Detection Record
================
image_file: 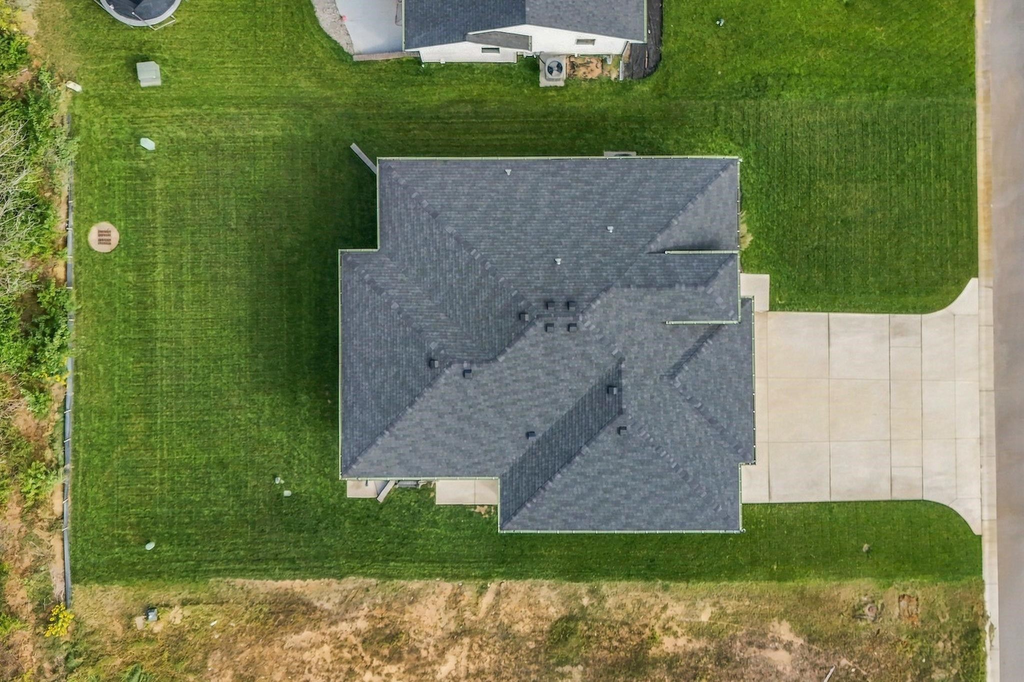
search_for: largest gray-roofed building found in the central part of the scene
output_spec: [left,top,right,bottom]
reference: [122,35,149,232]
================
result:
[339,157,755,533]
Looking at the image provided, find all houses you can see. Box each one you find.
[402,0,647,64]
[339,157,755,533]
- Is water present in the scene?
No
